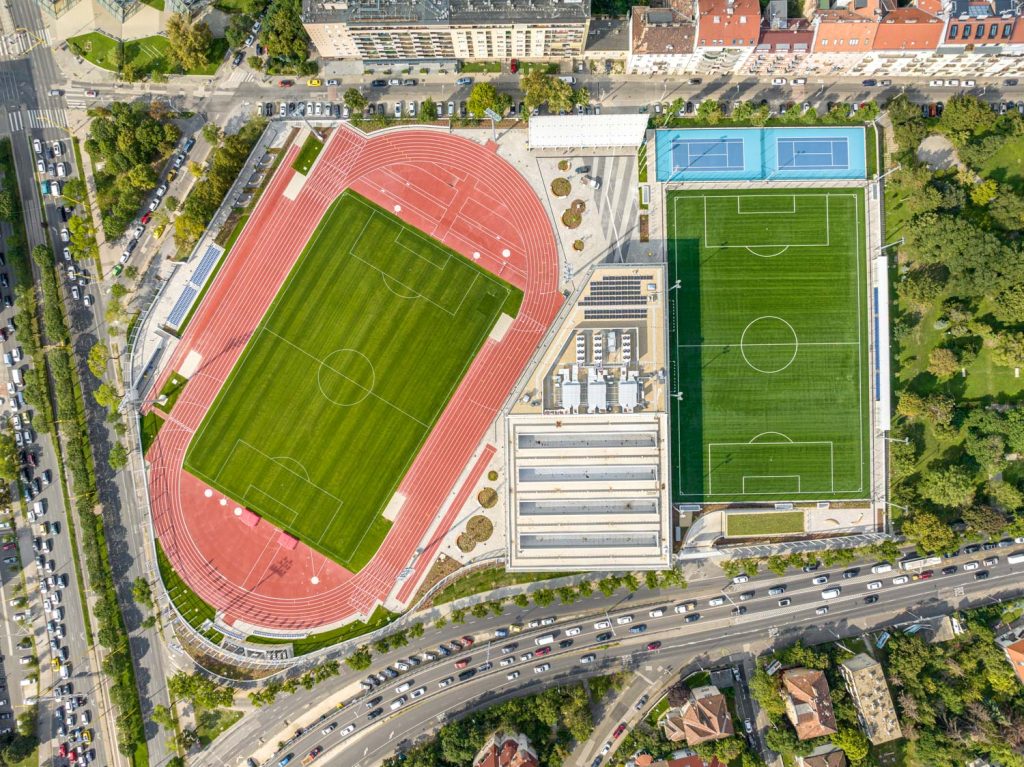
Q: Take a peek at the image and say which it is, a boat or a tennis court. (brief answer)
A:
tennis court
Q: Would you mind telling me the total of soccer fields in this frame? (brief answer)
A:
two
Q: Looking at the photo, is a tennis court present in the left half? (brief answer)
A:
No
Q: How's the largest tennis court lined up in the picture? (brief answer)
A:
from left to right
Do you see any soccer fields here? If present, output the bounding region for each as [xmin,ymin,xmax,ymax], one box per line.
[182,188,525,572]
[667,188,870,503]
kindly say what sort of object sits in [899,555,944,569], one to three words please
vehicle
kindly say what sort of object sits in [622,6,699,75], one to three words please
house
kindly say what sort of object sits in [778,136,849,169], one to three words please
tennis court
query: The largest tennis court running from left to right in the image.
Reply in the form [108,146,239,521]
[656,126,866,181]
